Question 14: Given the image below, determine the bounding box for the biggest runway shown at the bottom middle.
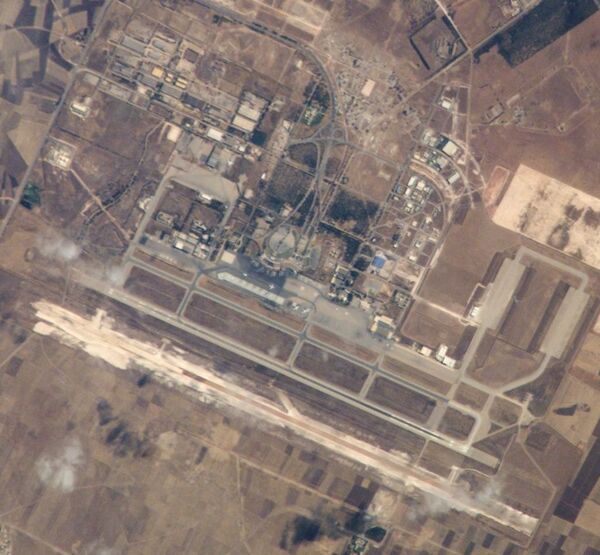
[33,301,538,535]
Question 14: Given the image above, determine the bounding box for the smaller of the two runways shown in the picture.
[74,278,497,468]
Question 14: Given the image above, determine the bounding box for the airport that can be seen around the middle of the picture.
[73,166,599,476]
